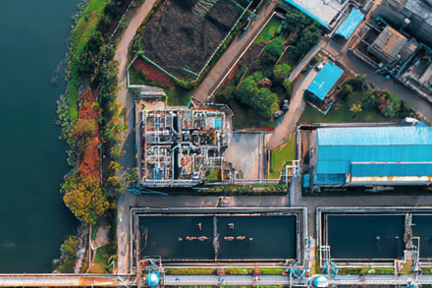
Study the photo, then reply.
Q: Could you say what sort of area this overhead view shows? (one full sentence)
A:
This image shows an industrial area.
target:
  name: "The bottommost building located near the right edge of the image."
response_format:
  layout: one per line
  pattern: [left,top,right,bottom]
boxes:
[305,125,432,189]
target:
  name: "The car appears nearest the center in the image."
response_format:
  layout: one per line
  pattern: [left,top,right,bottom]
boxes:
[269,107,288,120]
